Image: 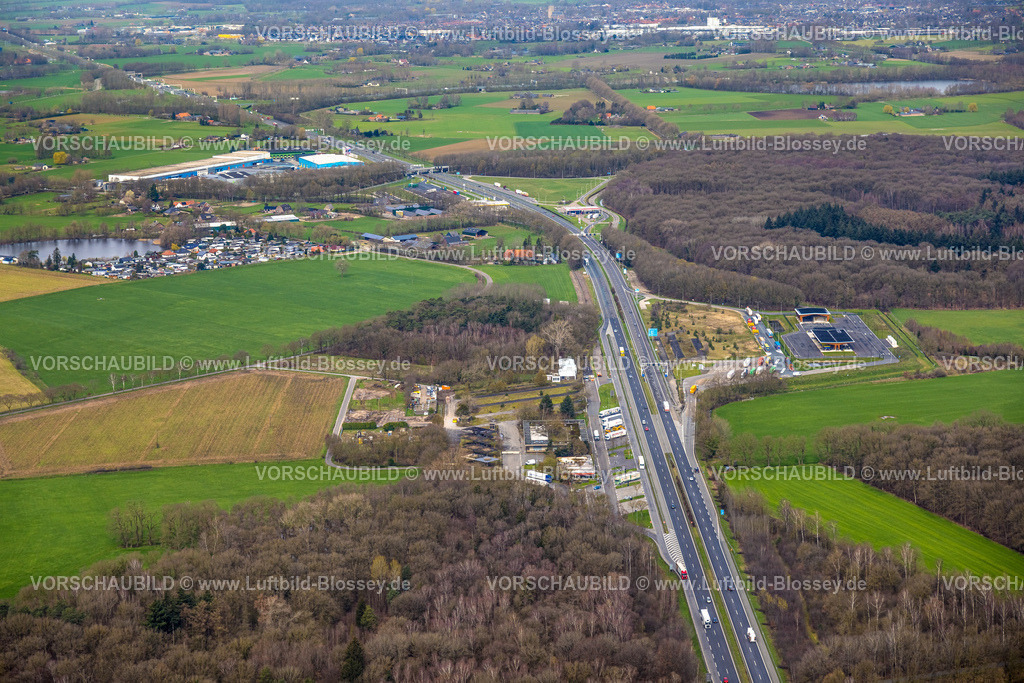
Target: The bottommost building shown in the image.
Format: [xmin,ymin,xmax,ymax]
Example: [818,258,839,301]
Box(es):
[556,456,595,482]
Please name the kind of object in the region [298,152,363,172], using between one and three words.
building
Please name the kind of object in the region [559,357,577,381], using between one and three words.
building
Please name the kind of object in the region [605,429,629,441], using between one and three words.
vehicle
